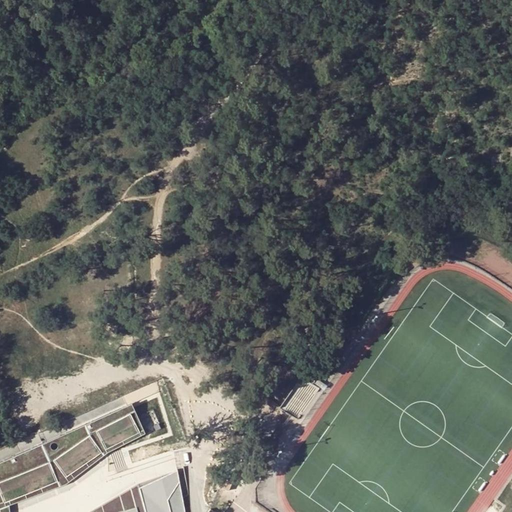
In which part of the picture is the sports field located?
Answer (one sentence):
The sports field is in the bottom right part of the image.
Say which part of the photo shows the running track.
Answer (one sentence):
The running track is located in the bottom right region of the scene.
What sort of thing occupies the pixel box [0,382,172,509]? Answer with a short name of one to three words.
building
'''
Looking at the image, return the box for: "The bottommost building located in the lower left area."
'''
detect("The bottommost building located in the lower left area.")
[85,470,186,512]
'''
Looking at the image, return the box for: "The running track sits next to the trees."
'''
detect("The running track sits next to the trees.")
[276,262,512,512]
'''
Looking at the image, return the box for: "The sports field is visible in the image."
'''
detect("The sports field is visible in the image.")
[284,270,512,512]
